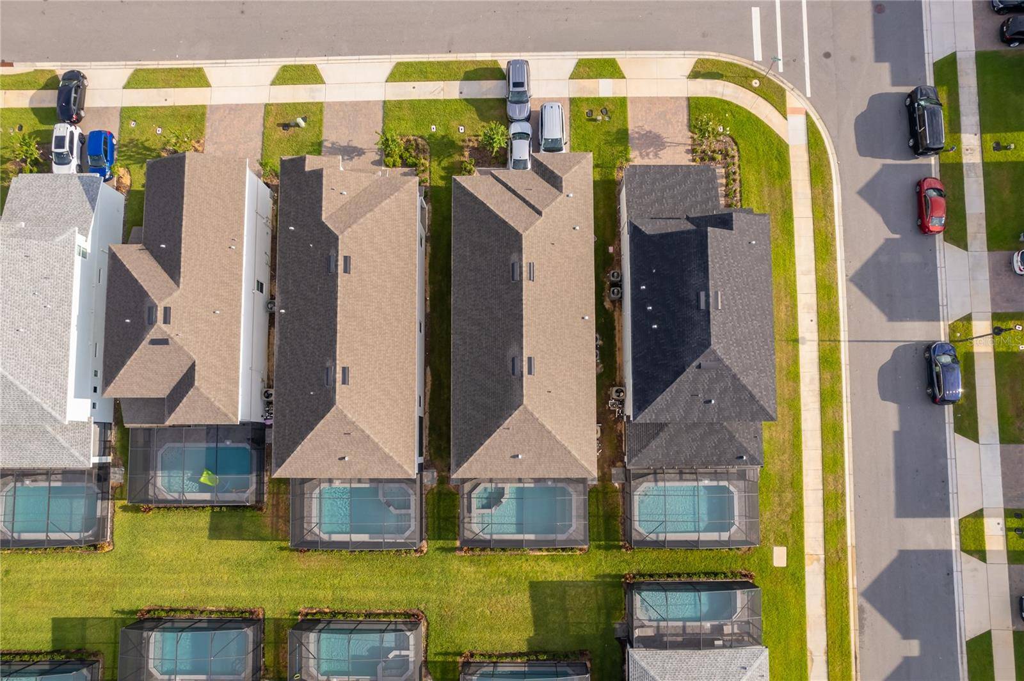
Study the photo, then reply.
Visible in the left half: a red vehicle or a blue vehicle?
blue vehicle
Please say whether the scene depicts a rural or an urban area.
urban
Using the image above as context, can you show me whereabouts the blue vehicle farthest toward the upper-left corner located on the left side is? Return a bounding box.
[82,127,113,180]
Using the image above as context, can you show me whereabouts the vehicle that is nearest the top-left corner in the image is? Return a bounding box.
[53,70,87,125]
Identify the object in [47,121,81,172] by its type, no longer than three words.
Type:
car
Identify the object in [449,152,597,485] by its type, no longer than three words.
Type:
house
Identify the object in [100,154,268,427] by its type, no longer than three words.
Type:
house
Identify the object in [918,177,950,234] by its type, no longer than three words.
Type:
car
